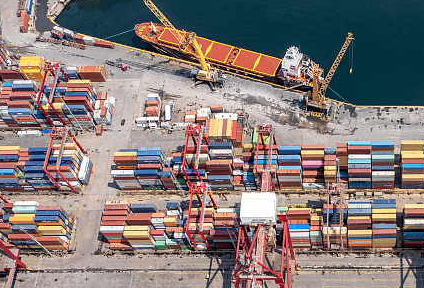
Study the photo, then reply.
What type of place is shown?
port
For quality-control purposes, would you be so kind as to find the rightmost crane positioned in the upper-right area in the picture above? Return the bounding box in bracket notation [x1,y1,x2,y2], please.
[301,32,352,119]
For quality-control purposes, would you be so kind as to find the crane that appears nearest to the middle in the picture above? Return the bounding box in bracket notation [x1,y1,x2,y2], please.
[180,127,208,187]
